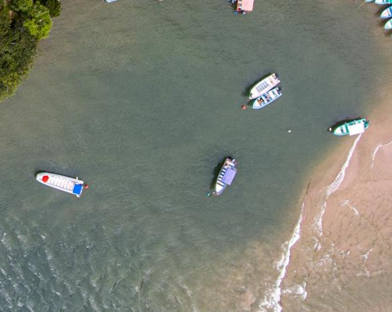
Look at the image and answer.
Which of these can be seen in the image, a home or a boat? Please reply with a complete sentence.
I can see a boat in this picture.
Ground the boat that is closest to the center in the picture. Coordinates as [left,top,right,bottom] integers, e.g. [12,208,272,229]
[215,157,237,196]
